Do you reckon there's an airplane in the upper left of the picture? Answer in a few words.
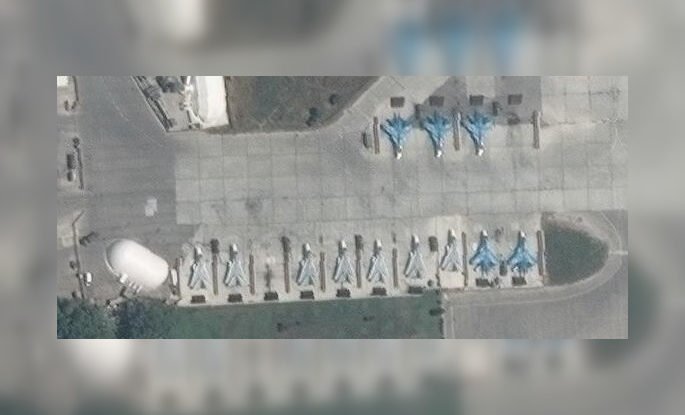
No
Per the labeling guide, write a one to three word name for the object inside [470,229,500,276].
airplane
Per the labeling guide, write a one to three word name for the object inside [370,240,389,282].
airplane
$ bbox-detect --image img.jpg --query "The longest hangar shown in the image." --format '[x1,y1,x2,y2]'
[192,4,227,129]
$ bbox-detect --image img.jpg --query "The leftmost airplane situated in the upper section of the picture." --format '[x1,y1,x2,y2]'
[383,114,413,159]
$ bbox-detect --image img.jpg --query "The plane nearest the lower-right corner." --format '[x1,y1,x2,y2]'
[508,232,538,276]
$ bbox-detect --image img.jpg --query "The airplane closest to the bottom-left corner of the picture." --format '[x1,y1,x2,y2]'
[189,246,209,288]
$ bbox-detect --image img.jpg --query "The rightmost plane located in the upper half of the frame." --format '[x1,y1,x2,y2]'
[463,110,493,155]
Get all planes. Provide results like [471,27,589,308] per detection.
[299,244,318,286]
[423,113,453,157]
[407,236,426,278]
[227,245,246,287]
[443,231,462,273]
[335,240,355,284]
[189,246,209,288]
[383,114,413,159]
[463,110,493,155]
[470,229,500,276]
[508,232,538,276]
[370,240,389,282]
